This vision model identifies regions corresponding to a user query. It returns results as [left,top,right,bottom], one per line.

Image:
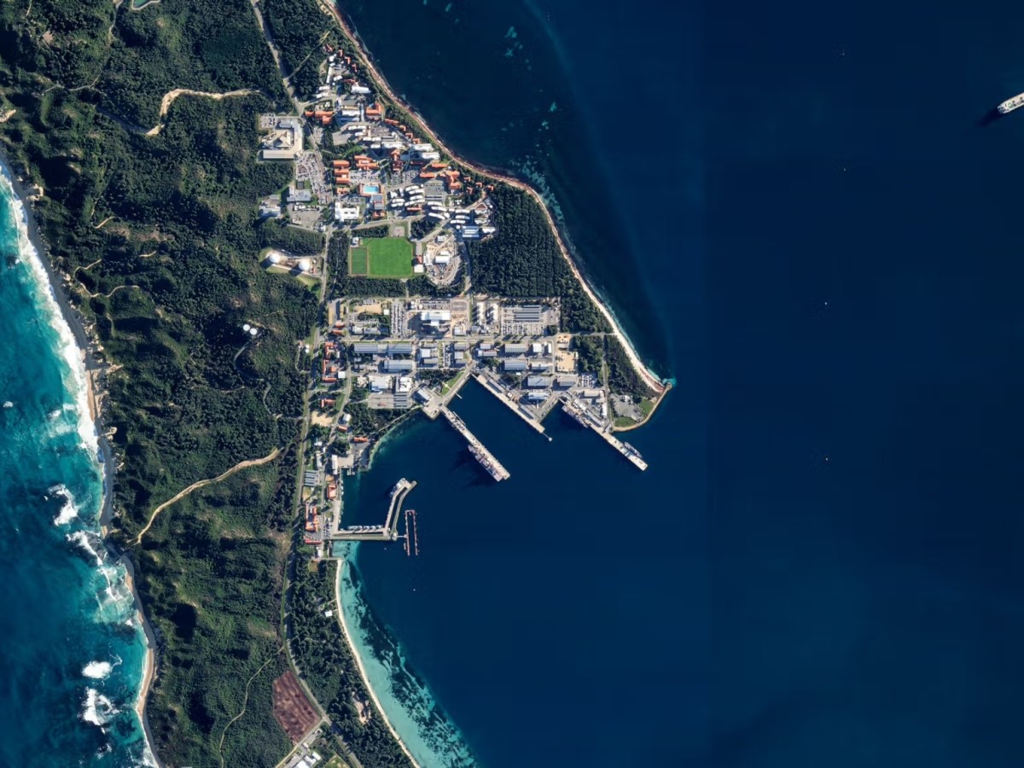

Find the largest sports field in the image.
[368,237,413,277]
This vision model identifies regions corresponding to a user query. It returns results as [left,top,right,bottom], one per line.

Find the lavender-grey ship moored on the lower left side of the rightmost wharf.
[562,406,589,428]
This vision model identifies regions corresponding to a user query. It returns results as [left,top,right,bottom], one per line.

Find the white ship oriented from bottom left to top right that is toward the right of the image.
[1000,93,1024,113]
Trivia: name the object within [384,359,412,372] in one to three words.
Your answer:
building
